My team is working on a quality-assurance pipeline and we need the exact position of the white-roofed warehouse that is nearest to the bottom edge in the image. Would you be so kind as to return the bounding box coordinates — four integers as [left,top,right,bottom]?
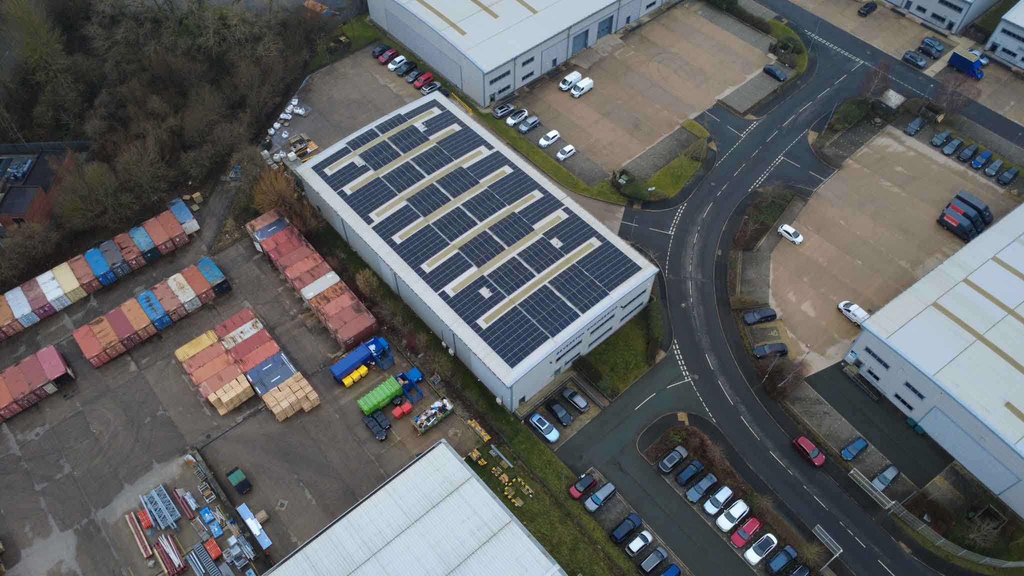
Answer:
[258,437,571,576]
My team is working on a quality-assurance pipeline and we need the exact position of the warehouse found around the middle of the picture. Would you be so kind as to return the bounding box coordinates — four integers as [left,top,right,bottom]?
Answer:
[289,90,661,414]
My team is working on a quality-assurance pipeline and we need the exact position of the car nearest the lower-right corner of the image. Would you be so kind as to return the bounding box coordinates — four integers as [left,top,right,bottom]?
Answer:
[871,464,901,492]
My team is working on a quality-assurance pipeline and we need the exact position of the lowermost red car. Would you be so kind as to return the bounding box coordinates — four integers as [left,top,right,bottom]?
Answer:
[732,516,762,547]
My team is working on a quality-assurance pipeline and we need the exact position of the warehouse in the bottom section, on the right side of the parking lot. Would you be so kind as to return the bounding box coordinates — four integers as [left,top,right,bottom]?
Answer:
[842,199,1024,517]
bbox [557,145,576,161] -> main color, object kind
white car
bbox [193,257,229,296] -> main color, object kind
blue shipping container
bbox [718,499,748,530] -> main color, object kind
white car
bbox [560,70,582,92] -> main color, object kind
white vehicle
